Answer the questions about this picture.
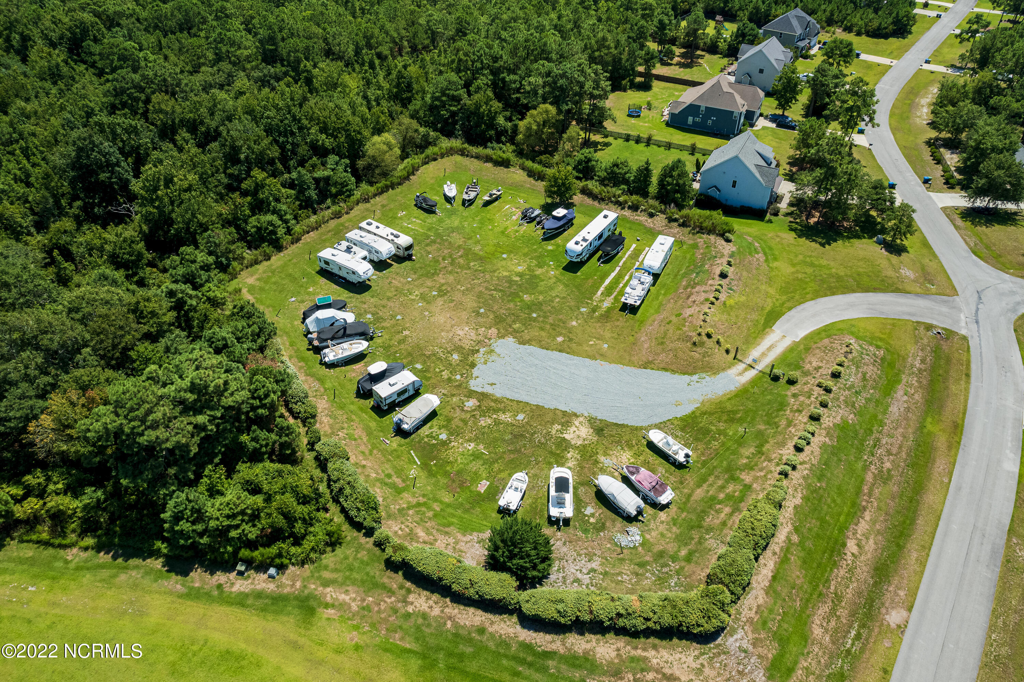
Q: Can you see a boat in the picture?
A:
Yes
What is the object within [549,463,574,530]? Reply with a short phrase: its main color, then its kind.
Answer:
white boat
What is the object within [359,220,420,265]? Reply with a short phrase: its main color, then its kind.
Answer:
white vehicle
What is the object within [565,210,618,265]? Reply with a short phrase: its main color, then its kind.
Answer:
white camper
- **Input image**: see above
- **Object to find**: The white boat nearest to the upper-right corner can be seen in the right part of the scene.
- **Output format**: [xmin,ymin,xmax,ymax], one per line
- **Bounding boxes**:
[623,265,653,305]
